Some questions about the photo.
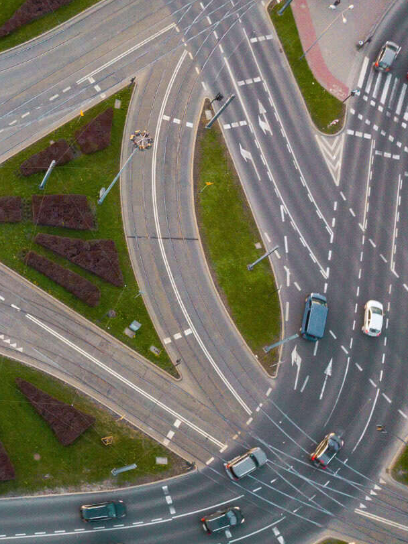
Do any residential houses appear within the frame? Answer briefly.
No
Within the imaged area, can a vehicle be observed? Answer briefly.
Yes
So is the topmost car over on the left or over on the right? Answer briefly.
right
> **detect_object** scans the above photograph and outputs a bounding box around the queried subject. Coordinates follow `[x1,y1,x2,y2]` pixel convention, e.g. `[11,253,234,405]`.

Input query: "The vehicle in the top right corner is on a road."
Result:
[374,40,400,73]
